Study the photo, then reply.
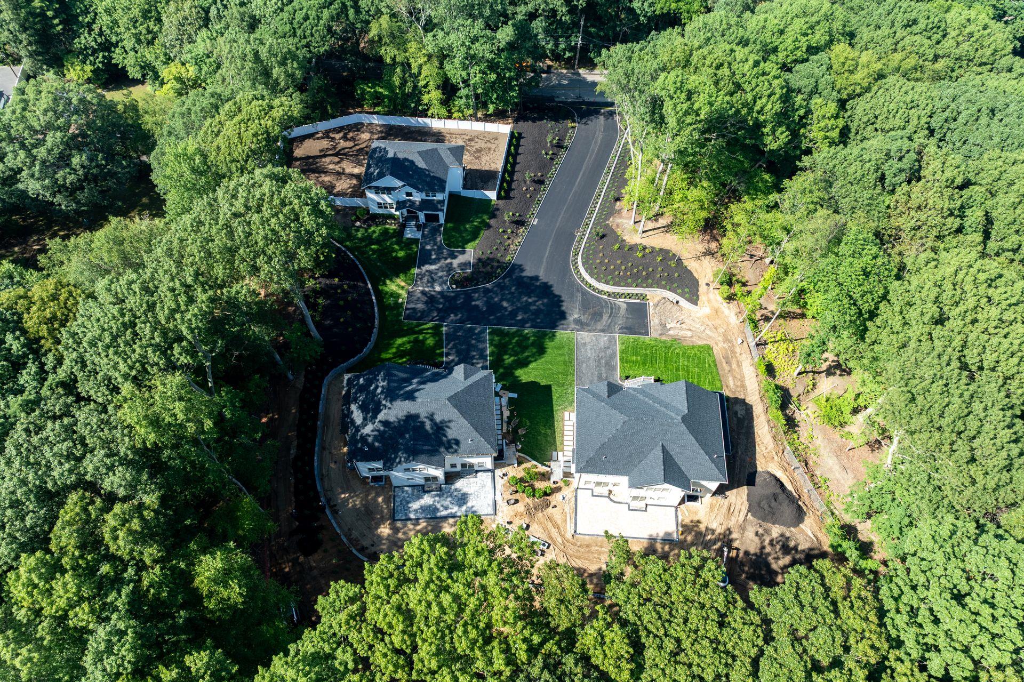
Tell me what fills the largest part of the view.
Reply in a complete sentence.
Most of the picture is covered by trees.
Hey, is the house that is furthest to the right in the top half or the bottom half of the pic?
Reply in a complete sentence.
You can find the house that is furthest to the right in the bottom half.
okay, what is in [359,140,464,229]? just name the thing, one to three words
house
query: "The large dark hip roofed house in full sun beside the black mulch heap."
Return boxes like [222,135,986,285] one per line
[573,377,733,517]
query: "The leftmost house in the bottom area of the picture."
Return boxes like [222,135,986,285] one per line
[341,360,500,497]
